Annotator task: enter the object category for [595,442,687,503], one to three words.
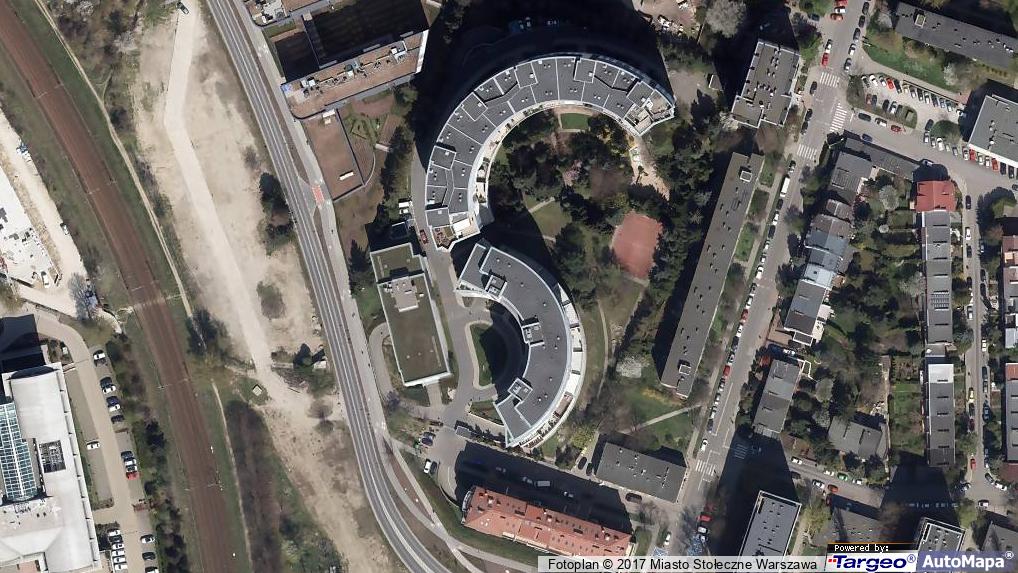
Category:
building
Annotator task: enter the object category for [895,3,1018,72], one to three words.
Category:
building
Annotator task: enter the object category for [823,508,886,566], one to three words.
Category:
house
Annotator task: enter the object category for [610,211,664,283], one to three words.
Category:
sports court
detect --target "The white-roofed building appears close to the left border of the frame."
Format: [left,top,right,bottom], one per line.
[0,362,105,573]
